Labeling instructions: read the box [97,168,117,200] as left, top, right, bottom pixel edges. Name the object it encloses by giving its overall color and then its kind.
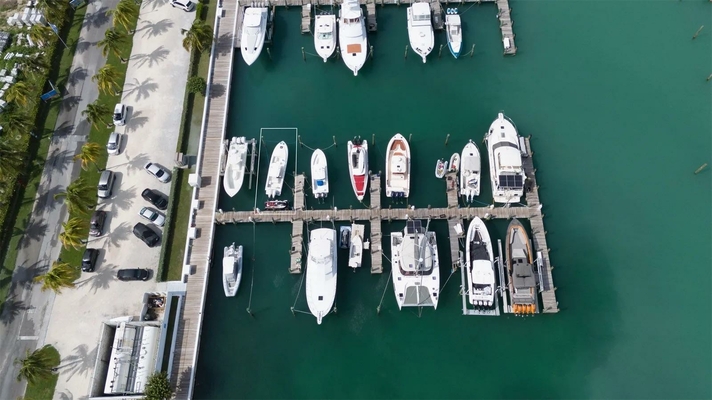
gray car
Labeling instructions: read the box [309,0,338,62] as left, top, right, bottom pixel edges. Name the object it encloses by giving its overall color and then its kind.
white boat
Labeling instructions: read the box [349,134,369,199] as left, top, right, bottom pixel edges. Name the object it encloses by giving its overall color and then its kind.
white boat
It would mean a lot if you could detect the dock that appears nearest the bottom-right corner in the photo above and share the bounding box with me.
[528,218,559,312]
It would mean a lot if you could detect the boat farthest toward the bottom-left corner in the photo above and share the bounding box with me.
[222,242,243,298]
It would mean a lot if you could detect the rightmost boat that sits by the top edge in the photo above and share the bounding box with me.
[446,7,462,58]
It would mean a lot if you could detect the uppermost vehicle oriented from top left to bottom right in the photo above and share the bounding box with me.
[144,160,172,184]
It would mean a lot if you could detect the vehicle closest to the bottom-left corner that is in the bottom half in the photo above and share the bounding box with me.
[81,245,101,275]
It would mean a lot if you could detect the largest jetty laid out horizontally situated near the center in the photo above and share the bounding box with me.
[215,202,544,227]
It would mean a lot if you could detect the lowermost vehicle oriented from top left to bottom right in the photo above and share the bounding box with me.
[131,220,163,248]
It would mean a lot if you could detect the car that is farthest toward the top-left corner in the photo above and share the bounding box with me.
[112,102,129,127]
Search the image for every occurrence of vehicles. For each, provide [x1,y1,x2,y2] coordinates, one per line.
[170,0,196,13]
[112,102,129,127]
[144,160,172,184]
[140,186,168,211]
[81,245,101,275]
[136,203,166,227]
[88,209,108,239]
[106,130,124,157]
[97,168,117,200]
[131,220,163,248]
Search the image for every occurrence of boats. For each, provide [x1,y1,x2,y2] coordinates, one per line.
[266,140,287,201]
[305,227,339,324]
[448,153,460,173]
[337,0,367,75]
[266,200,289,209]
[312,147,328,200]
[240,3,267,66]
[224,137,247,196]
[435,158,446,179]
[349,134,369,199]
[465,216,496,311]
[309,0,338,62]
[460,136,481,202]
[386,133,410,202]
[446,7,462,58]
[405,0,435,61]
[487,112,526,210]
[503,218,537,316]
[350,233,362,271]
[222,242,243,298]
[389,221,441,319]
